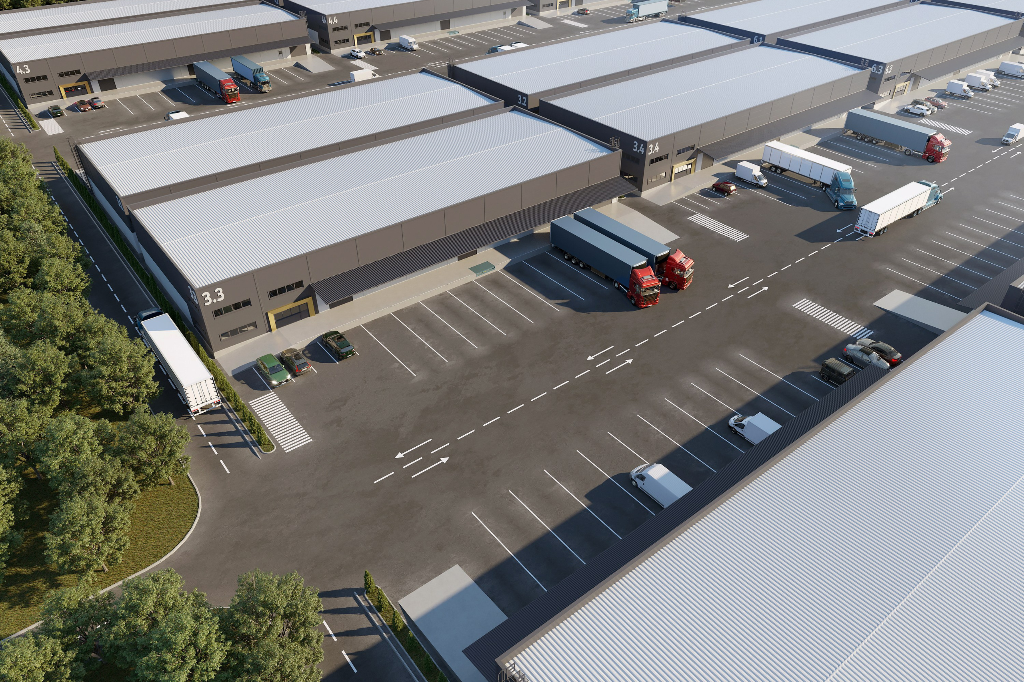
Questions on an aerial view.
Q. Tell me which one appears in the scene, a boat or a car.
car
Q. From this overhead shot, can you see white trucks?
Yes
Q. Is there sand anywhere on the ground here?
No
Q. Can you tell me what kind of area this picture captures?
industrial area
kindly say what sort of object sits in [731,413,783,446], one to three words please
van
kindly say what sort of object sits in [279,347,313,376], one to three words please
car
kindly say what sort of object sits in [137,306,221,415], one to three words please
truck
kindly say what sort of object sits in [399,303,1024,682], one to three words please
warehouse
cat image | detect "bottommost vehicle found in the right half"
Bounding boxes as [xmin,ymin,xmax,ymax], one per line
[629,464,692,508]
